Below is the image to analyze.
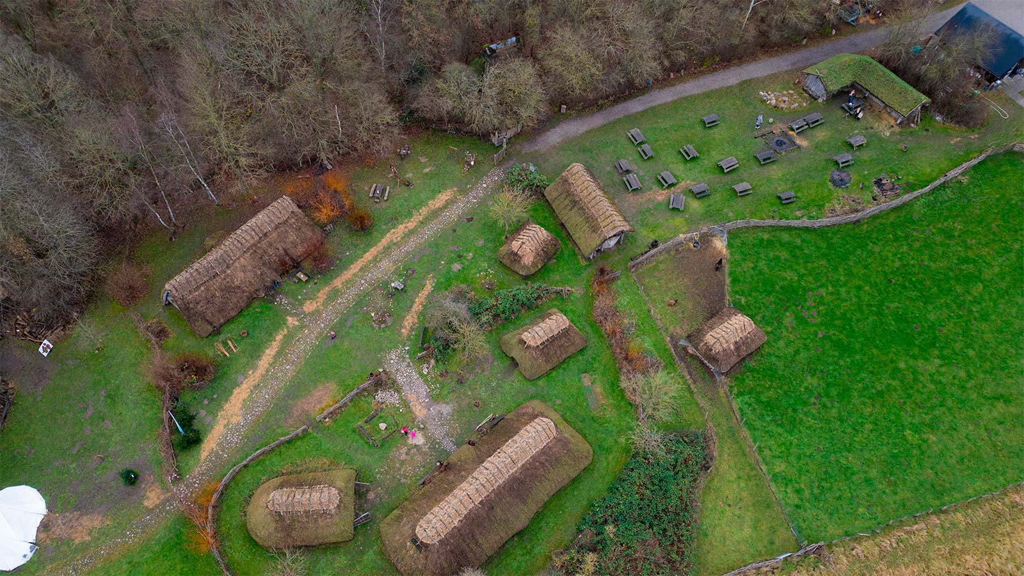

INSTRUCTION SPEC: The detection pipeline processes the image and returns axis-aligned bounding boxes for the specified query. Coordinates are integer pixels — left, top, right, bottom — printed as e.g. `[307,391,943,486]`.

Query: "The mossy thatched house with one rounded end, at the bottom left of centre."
[246,470,356,548]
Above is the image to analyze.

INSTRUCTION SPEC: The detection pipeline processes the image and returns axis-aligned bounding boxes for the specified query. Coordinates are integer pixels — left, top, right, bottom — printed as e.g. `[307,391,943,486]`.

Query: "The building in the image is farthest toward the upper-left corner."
[160,193,325,337]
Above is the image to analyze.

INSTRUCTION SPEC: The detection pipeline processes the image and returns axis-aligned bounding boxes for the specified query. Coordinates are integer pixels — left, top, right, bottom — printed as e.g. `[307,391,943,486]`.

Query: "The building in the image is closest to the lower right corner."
[692,310,765,373]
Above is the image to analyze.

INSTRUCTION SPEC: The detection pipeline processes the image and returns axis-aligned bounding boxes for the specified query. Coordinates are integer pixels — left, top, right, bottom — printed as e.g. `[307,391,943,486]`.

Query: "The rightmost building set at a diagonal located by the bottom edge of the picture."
[381,401,592,576]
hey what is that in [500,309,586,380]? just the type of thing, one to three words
building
